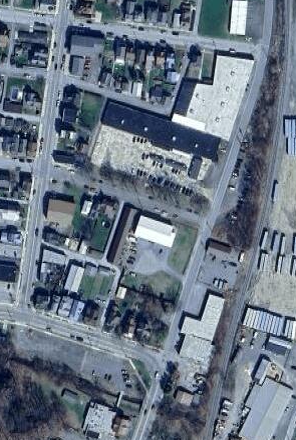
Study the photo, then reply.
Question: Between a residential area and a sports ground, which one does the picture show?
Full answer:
It's a residential area.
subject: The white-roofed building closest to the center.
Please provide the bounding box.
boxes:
[135,214,177,248]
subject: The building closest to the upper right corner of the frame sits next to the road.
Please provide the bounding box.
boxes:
[229,0,247,35]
